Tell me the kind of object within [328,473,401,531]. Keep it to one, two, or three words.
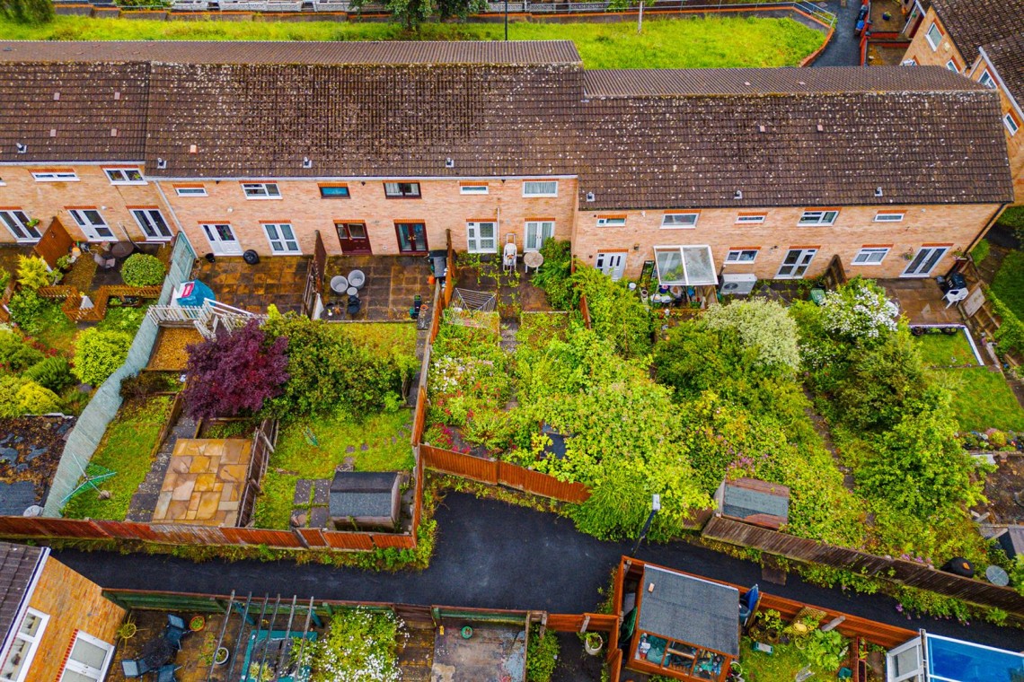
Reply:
shed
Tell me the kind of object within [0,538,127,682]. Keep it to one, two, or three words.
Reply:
house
